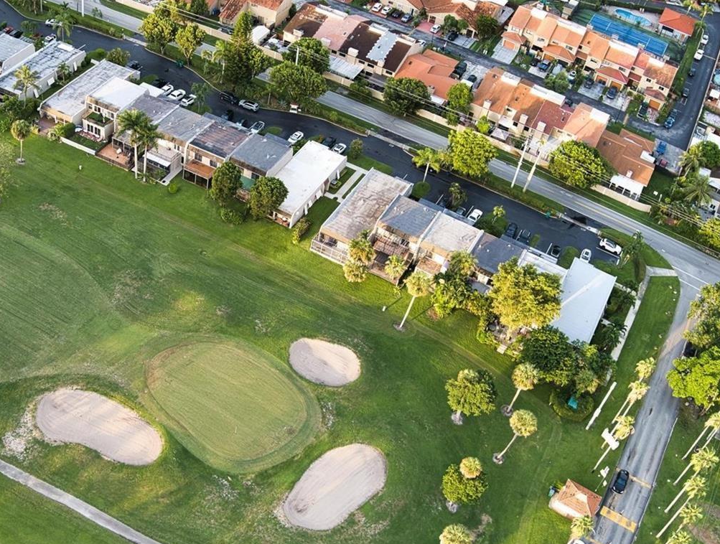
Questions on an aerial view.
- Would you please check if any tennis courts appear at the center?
No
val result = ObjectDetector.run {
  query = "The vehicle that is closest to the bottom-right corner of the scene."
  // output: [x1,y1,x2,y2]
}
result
[610,468,629,496]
